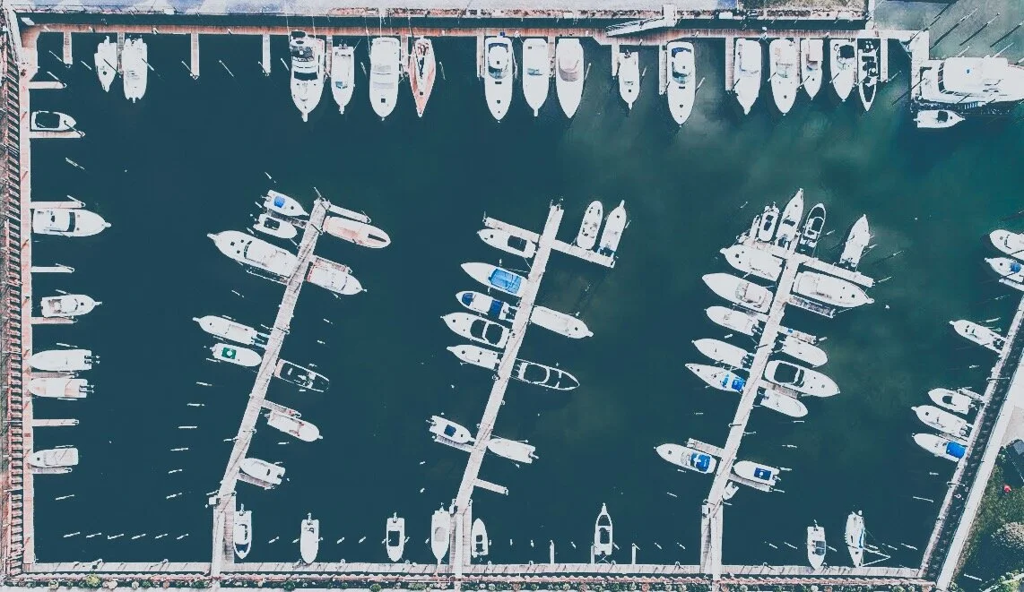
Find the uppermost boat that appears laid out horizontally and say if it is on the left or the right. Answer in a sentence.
The uppermost boat that appears laid out horizontally is on the right side of the image.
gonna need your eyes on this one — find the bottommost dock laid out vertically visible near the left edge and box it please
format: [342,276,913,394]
[18,47,87,563]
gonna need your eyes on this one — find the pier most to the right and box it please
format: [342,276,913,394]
[920,278,1024,577]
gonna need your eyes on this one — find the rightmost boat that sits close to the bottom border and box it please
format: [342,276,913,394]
[843,504,888,567]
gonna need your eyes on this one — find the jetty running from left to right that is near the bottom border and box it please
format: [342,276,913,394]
[23,537,921,575]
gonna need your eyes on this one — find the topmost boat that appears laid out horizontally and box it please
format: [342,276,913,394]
[908,54,1024,111]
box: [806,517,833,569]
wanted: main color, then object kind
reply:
white boat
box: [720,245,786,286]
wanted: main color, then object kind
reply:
white boat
